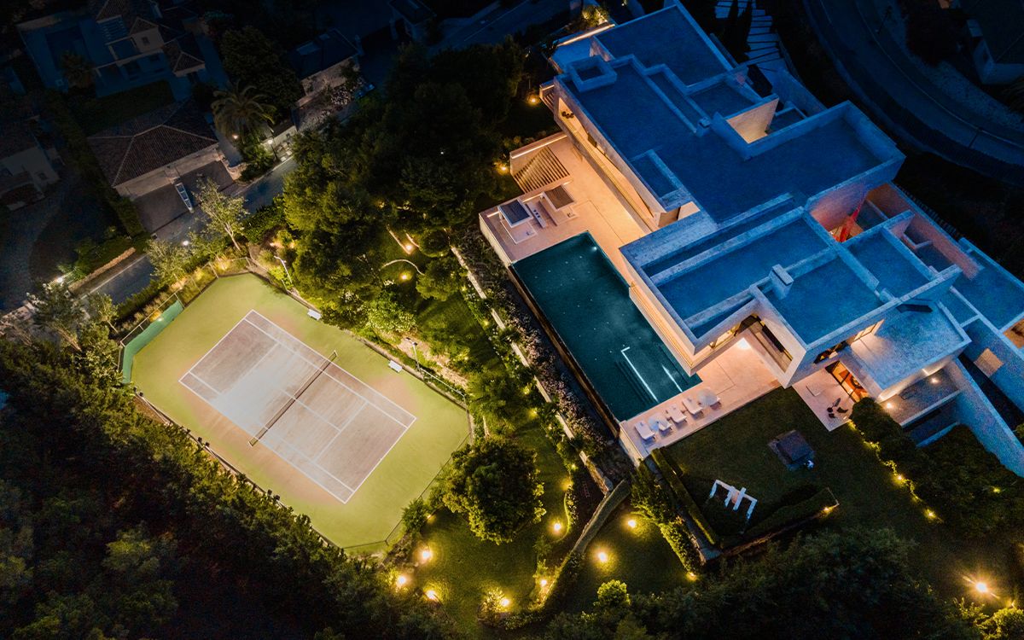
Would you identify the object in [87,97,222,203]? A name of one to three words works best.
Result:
building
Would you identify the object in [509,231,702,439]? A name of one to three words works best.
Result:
swimming pool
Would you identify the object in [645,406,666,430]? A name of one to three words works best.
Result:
umbrella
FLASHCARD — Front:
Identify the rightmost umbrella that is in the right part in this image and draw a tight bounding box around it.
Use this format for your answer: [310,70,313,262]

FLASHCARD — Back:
[693,380,714,404]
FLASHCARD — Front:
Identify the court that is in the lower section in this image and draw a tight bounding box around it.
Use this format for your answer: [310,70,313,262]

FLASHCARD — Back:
[130,273,472,550]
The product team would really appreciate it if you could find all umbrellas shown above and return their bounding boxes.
[693,380,714,404]
[645,406,666,430]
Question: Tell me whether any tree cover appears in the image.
Yes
